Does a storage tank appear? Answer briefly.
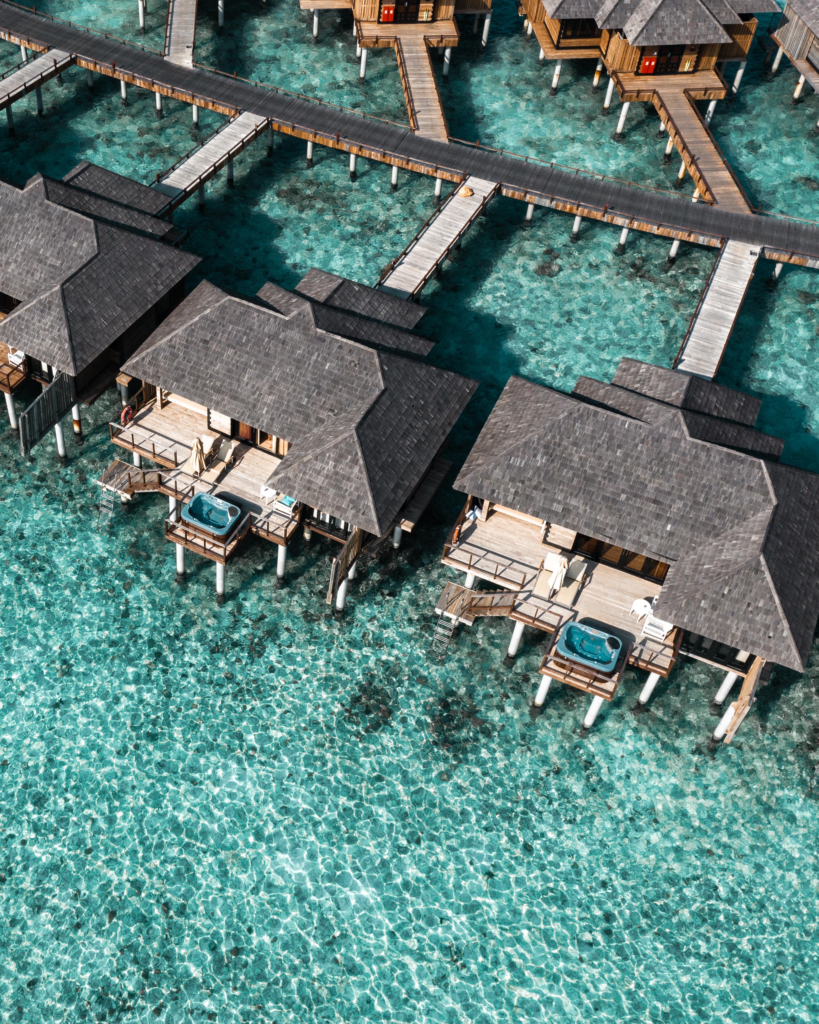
No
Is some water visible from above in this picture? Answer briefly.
Yes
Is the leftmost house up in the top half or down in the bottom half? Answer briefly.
top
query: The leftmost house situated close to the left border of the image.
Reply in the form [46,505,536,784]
[0,157,205,457]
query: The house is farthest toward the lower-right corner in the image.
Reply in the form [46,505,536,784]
[423,357,819,740]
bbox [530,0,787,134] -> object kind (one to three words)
house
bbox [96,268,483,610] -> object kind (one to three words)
house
